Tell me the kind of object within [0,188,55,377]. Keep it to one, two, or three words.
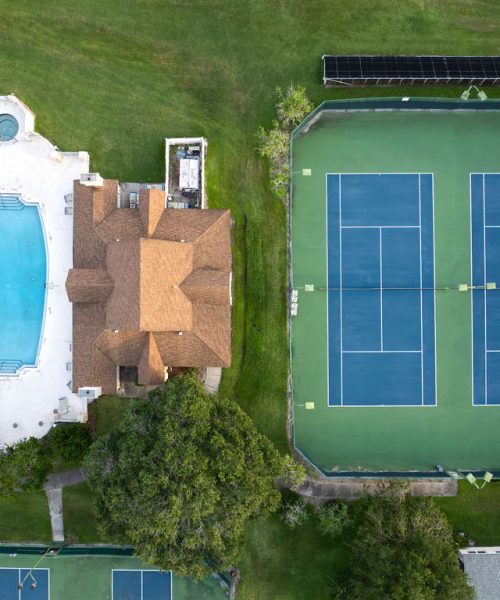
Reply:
swimming pool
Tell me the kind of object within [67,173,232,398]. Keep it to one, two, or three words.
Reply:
building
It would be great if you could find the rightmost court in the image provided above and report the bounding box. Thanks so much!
[468,173,500,405]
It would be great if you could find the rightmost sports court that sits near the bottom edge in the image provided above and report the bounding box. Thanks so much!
[112,570,174,600]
